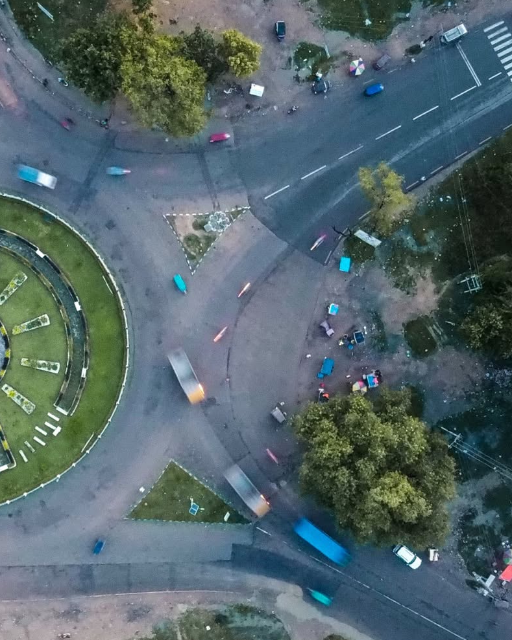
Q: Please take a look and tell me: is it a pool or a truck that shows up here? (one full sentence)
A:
I can see a truck in this picture.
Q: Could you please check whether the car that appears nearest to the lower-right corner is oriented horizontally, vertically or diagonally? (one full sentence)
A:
The car that appears nearest to the lower-right corner has been laid out diagonally relative to the frame.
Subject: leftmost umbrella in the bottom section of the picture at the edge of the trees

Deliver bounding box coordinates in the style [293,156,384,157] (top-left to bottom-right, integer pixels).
[351,378,367,394]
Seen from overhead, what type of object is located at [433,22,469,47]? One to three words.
truck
